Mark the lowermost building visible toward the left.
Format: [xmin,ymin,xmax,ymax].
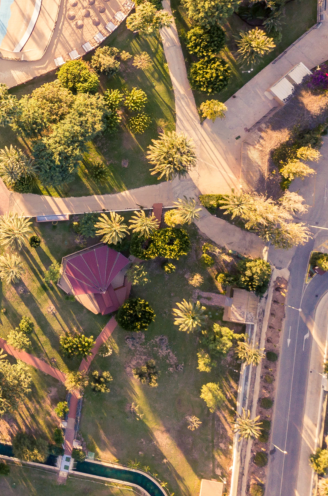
[56,242,130,314]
